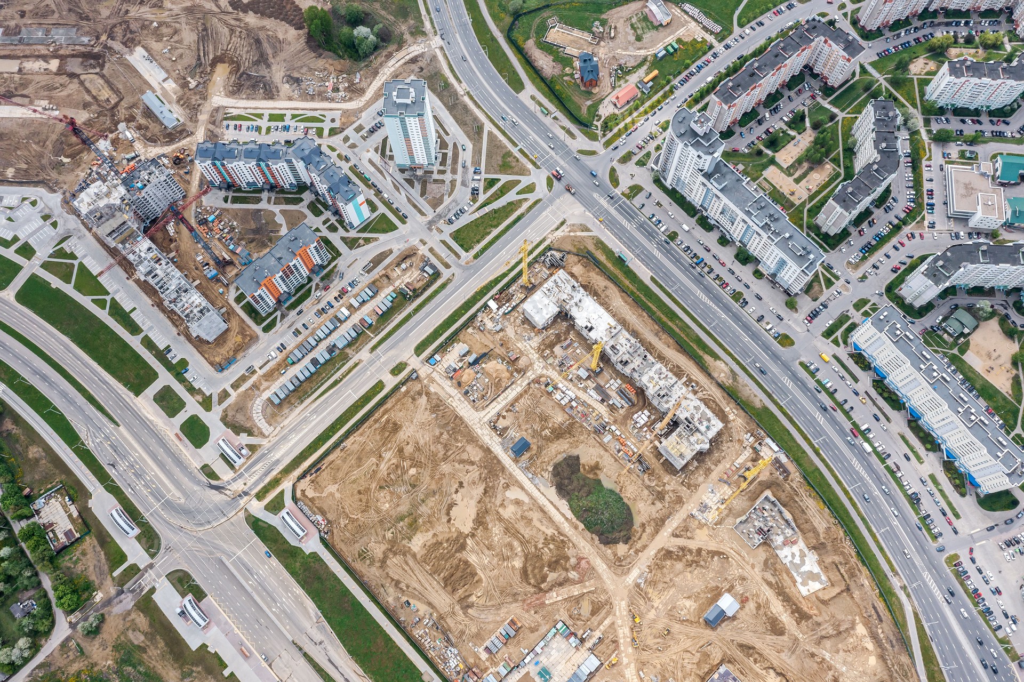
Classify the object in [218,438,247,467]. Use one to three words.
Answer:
building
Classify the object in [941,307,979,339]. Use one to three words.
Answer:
building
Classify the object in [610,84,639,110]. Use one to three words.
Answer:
house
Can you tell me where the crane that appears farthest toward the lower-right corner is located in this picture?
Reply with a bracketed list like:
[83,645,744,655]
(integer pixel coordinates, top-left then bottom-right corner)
[712,445,782,518]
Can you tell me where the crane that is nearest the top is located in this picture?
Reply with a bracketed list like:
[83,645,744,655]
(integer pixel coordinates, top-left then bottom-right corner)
[0,96,128,180]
